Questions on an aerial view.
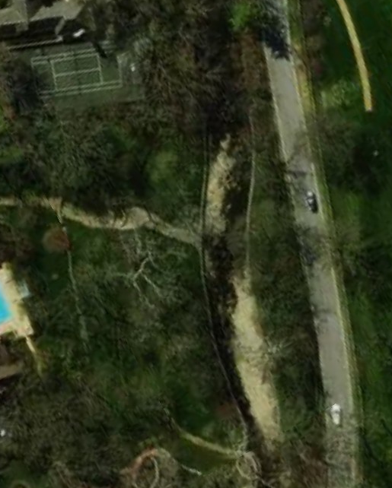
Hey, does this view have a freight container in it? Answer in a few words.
No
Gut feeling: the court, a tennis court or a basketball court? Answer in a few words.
tennis court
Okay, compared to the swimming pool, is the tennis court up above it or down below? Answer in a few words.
above it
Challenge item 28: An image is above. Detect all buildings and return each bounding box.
[0,0,81,38]
[0,342,19,384]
